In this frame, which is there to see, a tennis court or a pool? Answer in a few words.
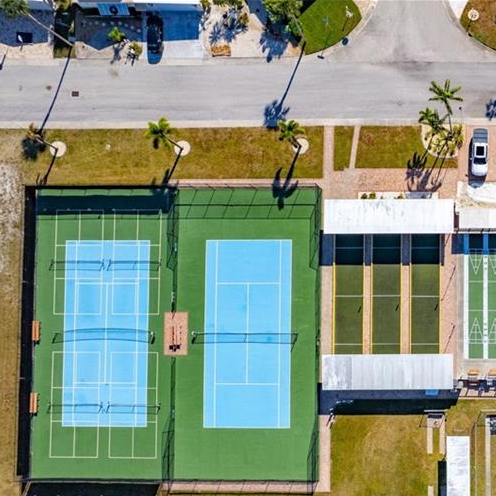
tennis court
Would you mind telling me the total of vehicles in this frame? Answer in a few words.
2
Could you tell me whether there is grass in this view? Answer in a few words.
Yes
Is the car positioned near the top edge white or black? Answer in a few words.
black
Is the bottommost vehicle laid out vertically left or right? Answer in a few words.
right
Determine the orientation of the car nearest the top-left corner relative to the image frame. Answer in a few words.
up and down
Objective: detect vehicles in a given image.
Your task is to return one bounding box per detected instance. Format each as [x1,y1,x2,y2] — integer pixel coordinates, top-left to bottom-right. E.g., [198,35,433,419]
[144,12,164,52]
[470,127,490,176]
